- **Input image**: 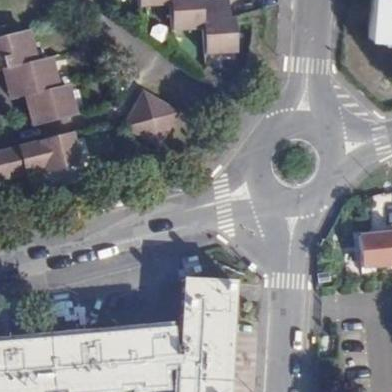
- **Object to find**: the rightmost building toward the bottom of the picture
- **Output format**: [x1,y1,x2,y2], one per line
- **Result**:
[352,228,392,274]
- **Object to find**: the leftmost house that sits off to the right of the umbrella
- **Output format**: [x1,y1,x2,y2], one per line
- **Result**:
[174,0,208,29]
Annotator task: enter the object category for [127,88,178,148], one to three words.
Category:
house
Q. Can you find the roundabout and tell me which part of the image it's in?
right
